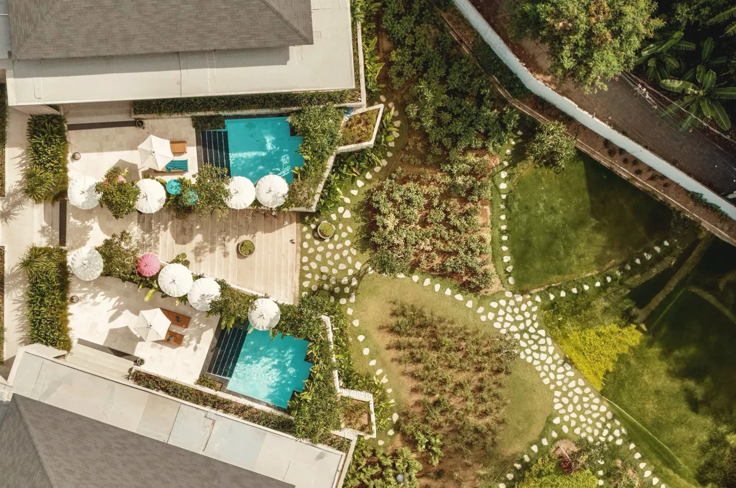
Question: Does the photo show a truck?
No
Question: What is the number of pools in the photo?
2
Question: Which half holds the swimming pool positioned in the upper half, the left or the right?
left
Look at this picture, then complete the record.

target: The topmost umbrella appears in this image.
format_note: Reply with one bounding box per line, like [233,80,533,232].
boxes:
[138,135,173,170]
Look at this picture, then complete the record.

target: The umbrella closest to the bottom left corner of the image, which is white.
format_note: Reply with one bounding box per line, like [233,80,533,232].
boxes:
[134,308,171,342]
